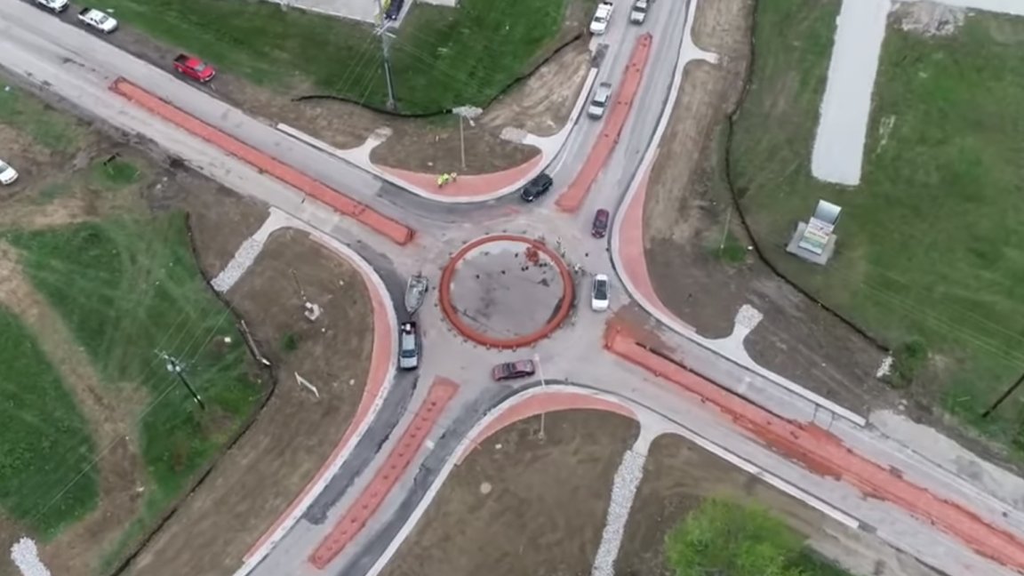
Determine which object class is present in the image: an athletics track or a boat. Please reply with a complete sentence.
Visible in the photo is a boat.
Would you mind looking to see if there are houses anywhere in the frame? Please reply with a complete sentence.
No, no house can be seen from above.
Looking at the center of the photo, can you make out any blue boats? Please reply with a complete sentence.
No, I see no blue boat at the center of the photo.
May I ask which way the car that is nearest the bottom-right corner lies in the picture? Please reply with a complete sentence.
I'd say the car that is nearest the bottom-right corner is aligned vertically in the picture.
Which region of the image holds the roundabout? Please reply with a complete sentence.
You can find the roundabout in the center area of the picture.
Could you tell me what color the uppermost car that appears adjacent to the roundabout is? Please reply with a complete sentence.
In this view, the uppermost car that appears adjacent to the roundabout is black.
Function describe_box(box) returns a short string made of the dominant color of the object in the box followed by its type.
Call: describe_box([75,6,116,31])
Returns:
white truck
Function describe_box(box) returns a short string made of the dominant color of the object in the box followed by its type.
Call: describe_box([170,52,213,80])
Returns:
red truck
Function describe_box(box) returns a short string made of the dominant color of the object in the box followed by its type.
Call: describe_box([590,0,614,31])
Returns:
white truck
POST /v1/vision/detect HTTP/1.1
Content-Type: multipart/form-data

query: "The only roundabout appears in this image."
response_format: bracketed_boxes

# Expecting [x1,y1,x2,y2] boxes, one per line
[404,210,614,384]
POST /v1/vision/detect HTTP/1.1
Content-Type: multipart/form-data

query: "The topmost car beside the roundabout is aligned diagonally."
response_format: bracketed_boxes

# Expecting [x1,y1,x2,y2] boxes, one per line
[520,169,556,202]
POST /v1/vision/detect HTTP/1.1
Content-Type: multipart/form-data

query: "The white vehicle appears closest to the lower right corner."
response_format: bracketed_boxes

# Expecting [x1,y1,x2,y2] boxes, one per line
[591,271,612,312]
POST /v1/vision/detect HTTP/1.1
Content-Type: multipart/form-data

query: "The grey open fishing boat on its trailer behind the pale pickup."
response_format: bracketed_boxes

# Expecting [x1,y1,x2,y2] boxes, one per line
[402,264,427,310]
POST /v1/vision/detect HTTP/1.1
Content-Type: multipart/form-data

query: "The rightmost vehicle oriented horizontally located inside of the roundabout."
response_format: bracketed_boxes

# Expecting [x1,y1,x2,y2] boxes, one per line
[490,357,538,380]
